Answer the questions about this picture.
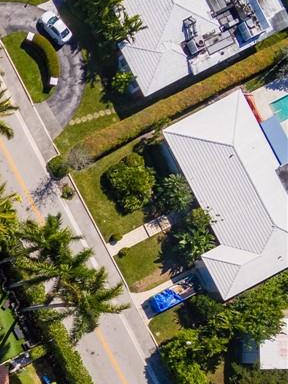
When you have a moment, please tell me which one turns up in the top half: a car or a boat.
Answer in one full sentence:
There is a car in the top half.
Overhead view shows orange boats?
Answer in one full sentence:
No, there's no orange boat here.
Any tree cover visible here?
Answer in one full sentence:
Yes, tree cover can be seen from above here.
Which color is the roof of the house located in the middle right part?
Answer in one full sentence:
From above, the roof of the house located in the middle right part looks white.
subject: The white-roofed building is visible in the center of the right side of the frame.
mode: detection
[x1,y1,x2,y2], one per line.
[153,89,288,301]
